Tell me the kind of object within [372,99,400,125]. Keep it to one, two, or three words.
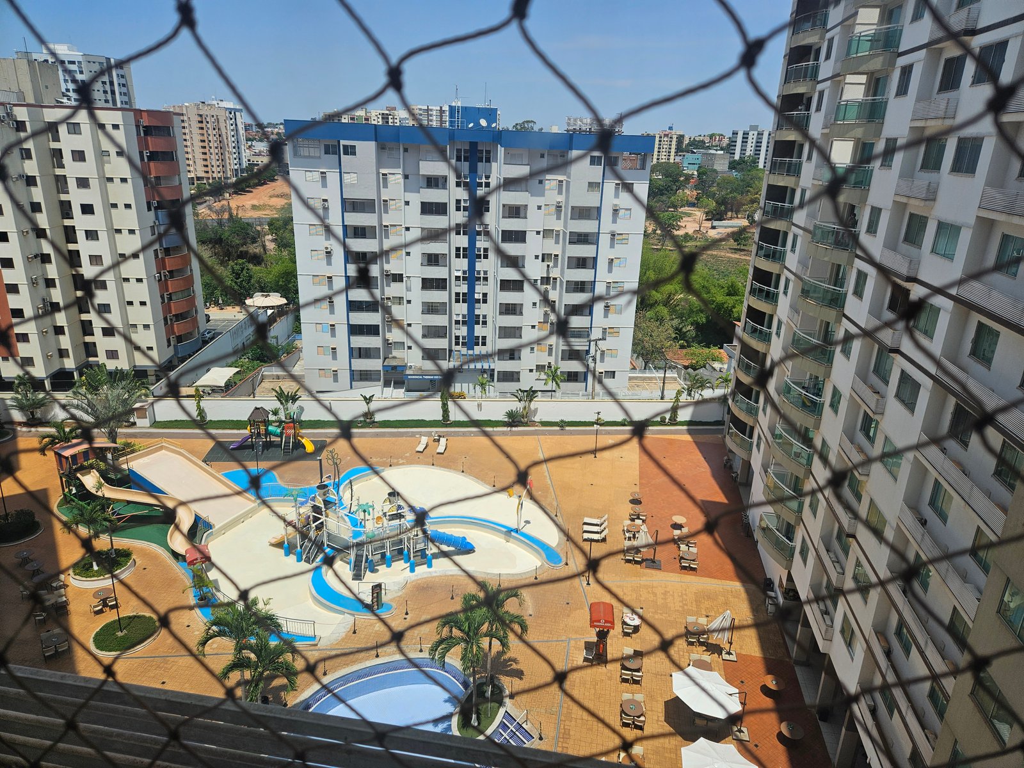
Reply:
building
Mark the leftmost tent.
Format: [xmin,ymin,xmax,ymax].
[191,369,246,395]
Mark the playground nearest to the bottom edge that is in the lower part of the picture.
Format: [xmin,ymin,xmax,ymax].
[260,472,482,592]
